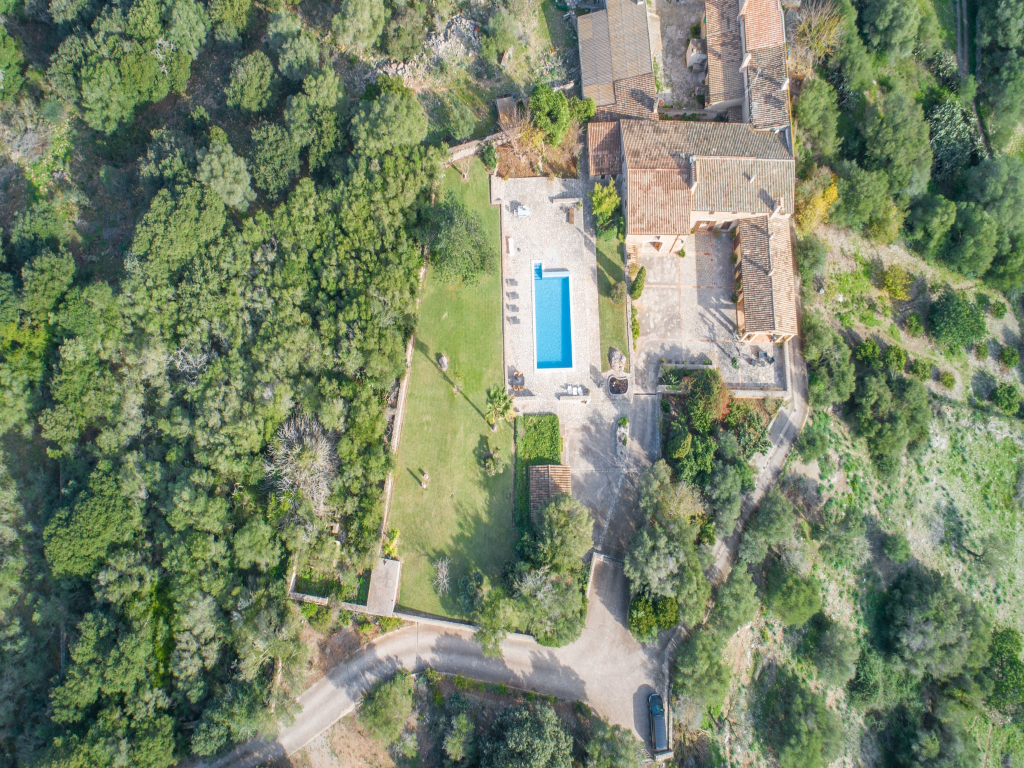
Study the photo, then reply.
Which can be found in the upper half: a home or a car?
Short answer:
home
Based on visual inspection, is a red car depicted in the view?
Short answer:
No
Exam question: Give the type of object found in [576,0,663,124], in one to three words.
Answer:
barn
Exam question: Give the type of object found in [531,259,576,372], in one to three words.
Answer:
swimming pool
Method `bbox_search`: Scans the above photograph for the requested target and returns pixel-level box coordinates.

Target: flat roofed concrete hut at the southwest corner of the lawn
[368,558,403,616]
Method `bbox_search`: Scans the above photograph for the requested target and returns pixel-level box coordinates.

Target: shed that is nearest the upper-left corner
[496,94,525,135]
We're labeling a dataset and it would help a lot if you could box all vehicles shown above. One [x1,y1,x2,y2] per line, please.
[647,697,673,754]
